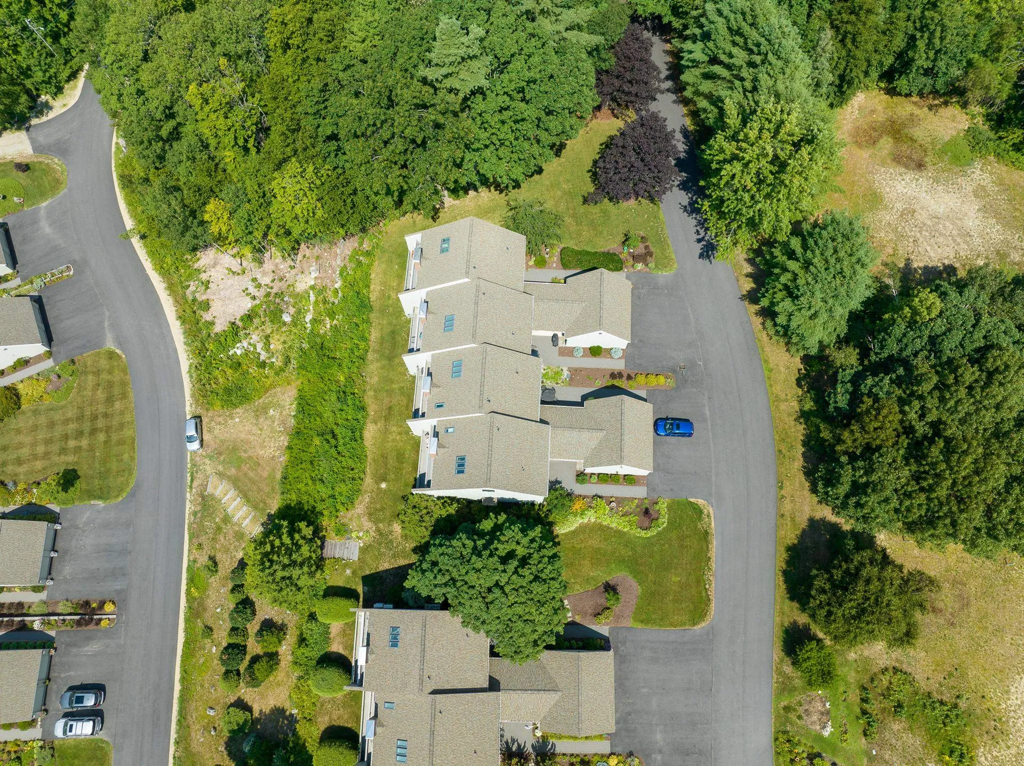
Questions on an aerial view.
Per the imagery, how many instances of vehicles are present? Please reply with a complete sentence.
My tally gives 4 vehicles in this view.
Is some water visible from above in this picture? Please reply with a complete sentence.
No, the picture contains no water.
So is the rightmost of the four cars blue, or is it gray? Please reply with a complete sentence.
The color of the rightmost of the four cars is blue.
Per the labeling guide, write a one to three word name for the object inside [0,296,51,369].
building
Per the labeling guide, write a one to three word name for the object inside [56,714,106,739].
car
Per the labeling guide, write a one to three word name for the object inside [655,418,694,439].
car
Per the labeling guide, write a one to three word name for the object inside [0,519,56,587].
building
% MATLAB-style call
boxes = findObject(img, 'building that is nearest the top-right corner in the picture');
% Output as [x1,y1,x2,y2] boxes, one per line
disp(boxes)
[525,268,632,345]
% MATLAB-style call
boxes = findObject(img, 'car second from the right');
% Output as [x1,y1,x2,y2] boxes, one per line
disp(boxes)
[183,417,205,452]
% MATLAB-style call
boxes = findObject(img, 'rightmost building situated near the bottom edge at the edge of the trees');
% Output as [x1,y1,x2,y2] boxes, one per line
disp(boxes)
[489,649,618,737]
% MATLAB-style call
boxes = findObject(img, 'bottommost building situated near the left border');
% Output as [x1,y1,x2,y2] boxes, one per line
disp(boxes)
[0,650,52,724]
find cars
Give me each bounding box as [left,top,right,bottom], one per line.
[655,418,694,439]
[56,714,106,739]
[183,417,205,452]
[59,688,106,711]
